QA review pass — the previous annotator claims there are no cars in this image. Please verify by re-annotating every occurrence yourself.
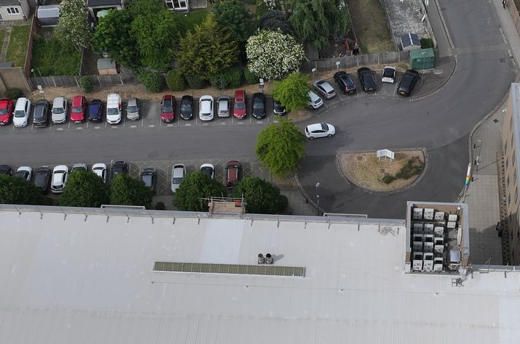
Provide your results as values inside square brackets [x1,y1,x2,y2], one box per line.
[67,93,90,125]
[108,157,131,186]
[0,99,15,127]
[93,158,110,179]
[224,160,242,192]
[198,94,216,124]
[49,166,72,195]
[333,69,358,98]
[16,158,37,176]
[380,66,397,87]
[70,157,91,175]
[49,94,72,126]
[308,90,329,115]
[158,94,178,123]
[310,76,339,104]
[395,69,420,99]
[230,89,249,121]
[123,95,143,124]
[0,158,16,175]
[250,91,267,123]
[270,93,288,121]
[303,123,337,141]
[10,97,34,128]
[357,67,377,97]
[168,162,188,193]
[216,99,232,120]
[85,97,107,125]
[177,93,195,124]
[34,163,56,196]
[31,99,52,128]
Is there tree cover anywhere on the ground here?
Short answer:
Yes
